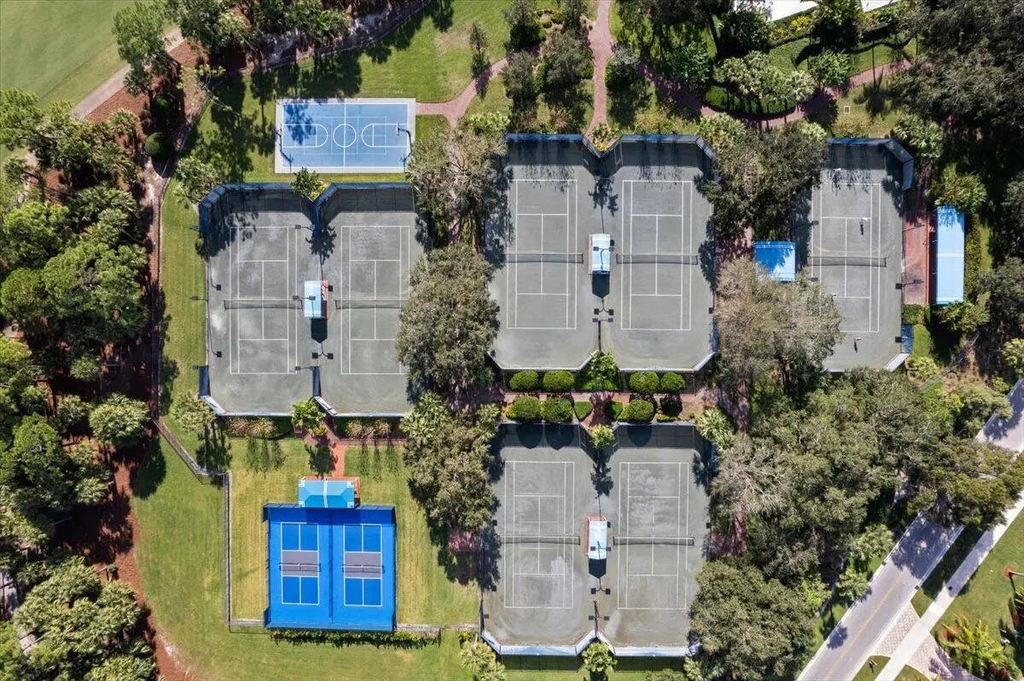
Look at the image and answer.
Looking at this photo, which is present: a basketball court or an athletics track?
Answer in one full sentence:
Of the two, only a basketball court appears.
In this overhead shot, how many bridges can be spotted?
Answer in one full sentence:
The photo contains no bridges.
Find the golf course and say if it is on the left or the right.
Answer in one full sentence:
It is on the left.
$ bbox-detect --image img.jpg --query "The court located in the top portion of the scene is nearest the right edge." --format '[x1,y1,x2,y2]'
[790,144,904,370]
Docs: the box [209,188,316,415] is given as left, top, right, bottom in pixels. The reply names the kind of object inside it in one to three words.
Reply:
tennis court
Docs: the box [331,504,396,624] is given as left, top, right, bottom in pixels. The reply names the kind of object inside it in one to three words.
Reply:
sports court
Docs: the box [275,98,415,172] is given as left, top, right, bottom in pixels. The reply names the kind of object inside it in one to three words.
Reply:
basketball court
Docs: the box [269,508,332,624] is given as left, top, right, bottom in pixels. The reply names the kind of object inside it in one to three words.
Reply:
sports court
